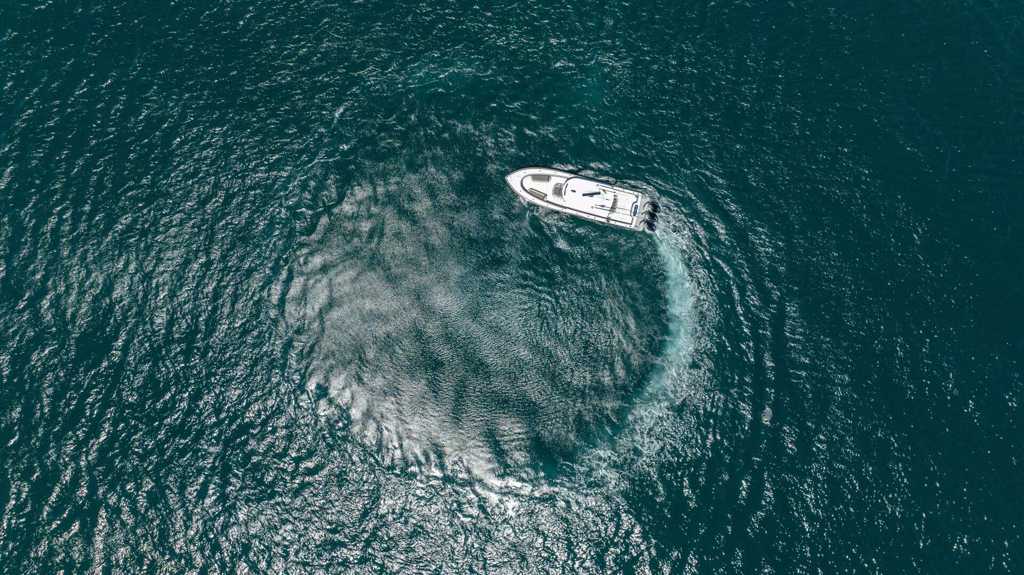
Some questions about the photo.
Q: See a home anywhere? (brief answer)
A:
No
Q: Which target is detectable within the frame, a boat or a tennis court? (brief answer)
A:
boat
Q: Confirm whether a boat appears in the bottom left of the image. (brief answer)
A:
No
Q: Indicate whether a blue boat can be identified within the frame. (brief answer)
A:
No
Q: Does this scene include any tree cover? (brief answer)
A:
No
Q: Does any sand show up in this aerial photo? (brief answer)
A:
No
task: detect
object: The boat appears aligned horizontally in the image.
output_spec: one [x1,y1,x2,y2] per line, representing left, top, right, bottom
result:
[504,166,660,231]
